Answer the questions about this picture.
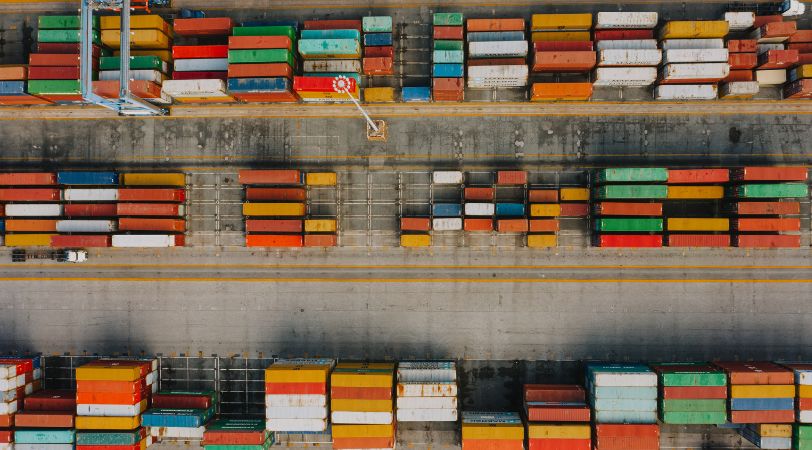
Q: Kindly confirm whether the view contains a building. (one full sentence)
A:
No, I find no building anywhere in the image.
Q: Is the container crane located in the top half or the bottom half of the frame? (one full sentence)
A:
The top half of the photo is where the container crane is.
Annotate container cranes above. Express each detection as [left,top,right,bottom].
[81,0,168,113]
